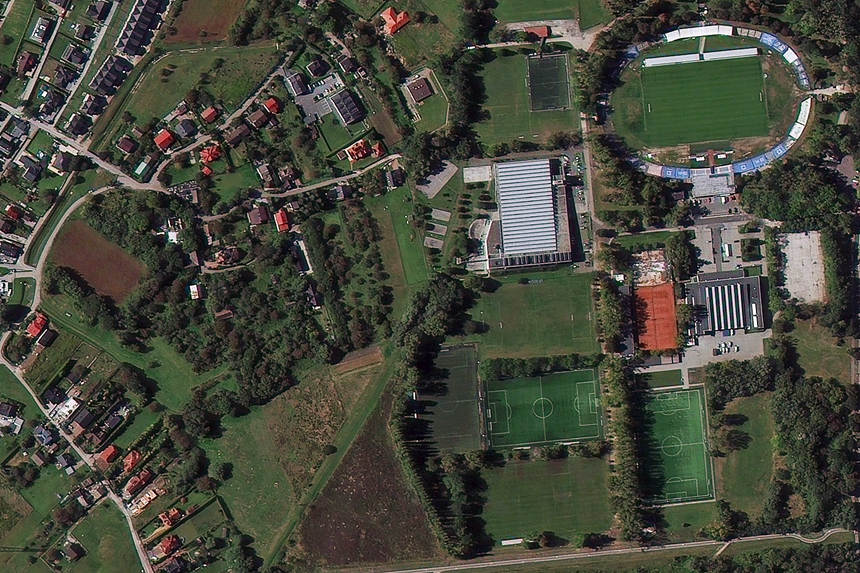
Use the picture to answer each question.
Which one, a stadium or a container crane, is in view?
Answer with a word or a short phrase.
stadium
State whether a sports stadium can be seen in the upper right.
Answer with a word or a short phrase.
Yes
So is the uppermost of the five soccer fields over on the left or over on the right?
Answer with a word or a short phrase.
right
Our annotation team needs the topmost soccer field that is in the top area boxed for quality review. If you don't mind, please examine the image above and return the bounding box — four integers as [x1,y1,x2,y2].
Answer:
[641,55,771,149]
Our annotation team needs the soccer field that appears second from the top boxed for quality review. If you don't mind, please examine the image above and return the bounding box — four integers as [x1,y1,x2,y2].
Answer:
[478,274,597,360]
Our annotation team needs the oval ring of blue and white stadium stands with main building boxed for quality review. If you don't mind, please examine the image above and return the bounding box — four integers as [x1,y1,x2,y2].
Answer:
[604,24,816,198]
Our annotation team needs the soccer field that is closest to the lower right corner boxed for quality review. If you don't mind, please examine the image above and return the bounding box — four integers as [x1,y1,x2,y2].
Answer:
[641,387,714,504]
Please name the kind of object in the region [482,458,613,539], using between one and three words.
soccer field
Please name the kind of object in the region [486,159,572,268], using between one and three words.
building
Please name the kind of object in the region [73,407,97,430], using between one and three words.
house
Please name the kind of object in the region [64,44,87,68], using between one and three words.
house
